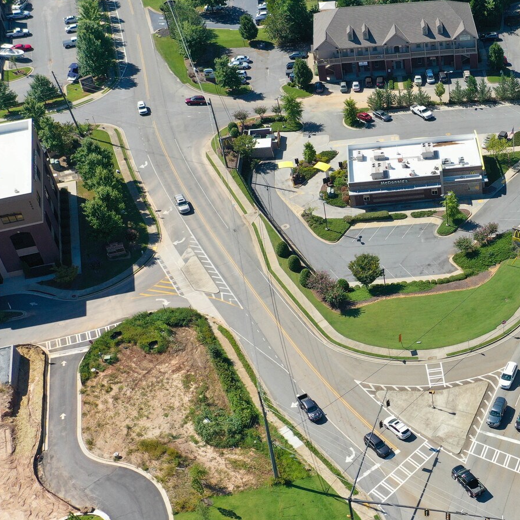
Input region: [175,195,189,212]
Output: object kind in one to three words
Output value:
vehicle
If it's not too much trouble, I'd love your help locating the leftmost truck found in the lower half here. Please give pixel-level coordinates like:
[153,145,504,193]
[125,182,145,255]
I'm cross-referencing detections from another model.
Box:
[295,393,324,423]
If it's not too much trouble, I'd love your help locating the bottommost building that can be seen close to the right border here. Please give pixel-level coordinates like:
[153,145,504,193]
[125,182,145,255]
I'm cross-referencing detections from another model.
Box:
[345,128,500,206]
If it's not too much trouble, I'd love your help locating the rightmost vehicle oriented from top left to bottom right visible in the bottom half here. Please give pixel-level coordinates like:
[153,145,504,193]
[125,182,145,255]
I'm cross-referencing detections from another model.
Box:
[451,465,485,500]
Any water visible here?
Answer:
No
